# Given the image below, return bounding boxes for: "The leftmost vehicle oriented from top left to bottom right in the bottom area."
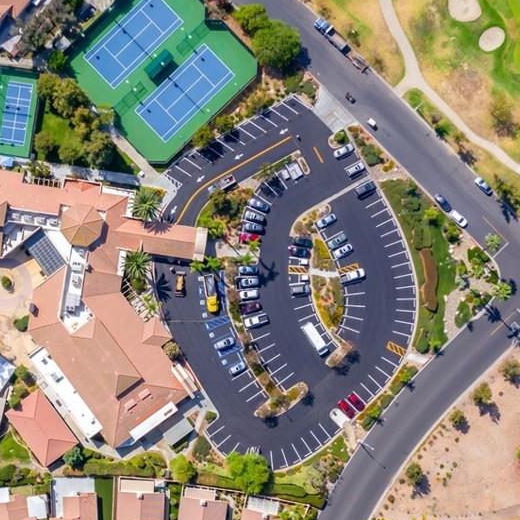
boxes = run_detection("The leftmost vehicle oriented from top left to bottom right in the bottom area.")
[300,321,328,353]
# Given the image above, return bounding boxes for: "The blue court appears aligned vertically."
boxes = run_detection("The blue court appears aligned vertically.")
[0,66,38,155]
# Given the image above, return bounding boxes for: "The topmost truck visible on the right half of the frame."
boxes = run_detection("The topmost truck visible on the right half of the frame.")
[315,18,348,46]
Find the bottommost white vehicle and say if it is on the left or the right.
right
